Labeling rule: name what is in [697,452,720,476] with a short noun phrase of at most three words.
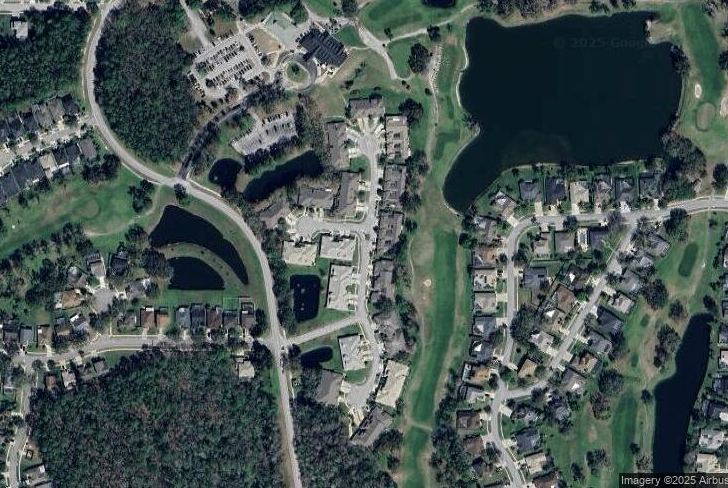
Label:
house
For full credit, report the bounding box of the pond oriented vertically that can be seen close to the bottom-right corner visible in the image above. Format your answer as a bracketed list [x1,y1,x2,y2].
[653,313,712,488]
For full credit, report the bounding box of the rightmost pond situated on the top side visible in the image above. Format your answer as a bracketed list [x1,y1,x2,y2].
[444,12,684,213]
